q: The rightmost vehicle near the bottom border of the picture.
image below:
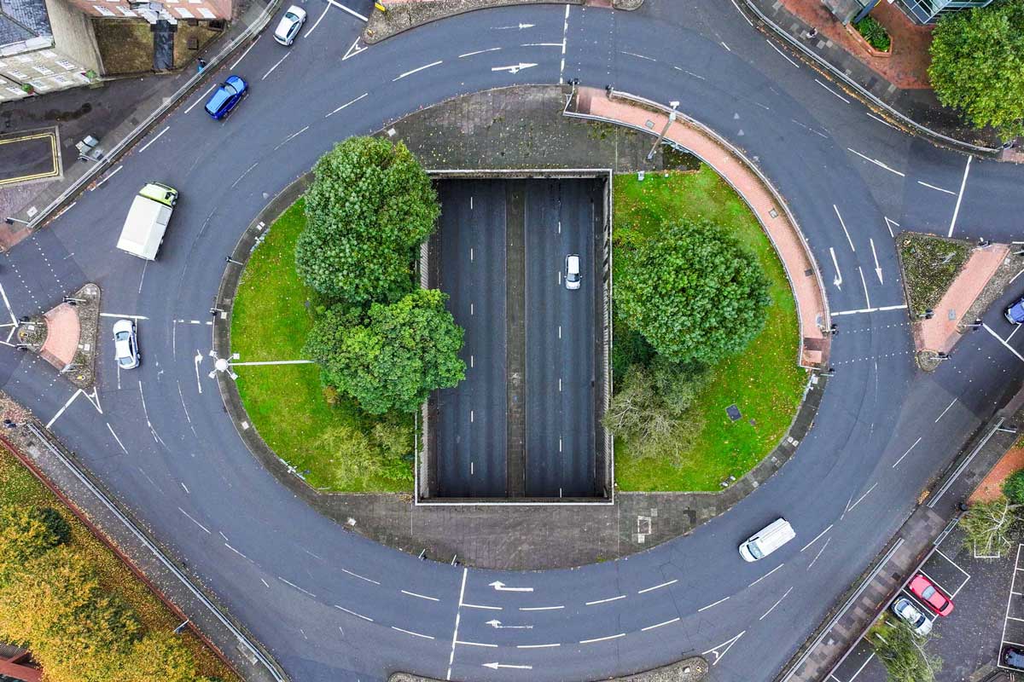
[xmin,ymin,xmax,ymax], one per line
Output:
[1002,646,1024,673]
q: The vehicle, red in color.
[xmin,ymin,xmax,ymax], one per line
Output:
[908,575,955,617]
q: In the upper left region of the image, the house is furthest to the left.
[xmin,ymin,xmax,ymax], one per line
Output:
[0,0,104,103]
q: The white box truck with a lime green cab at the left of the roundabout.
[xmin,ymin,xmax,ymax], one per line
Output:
[120,185,182,260]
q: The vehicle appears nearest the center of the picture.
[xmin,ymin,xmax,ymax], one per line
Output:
[563,254,582,290]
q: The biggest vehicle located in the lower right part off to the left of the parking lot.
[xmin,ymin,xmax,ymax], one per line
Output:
[740,519,798,562]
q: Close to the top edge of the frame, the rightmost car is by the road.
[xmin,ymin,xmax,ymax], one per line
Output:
[275,7,307,45]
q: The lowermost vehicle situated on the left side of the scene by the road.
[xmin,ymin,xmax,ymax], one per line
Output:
[112,320,142,369]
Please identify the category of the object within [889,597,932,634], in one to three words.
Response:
car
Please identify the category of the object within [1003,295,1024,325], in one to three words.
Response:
car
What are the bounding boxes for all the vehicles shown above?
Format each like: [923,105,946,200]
[563,254,582,290]
[112,320,142,369]
[1002,646,1024,673]
[275,7,307,45]
[1003,295,1024,325]
[740,519,798,562]
[120,185,182,260]
[889,597,932,634]
[908,575,955,617]
[205,76,247,122]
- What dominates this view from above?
paved ground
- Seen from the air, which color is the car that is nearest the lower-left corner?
white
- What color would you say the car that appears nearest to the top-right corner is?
blue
